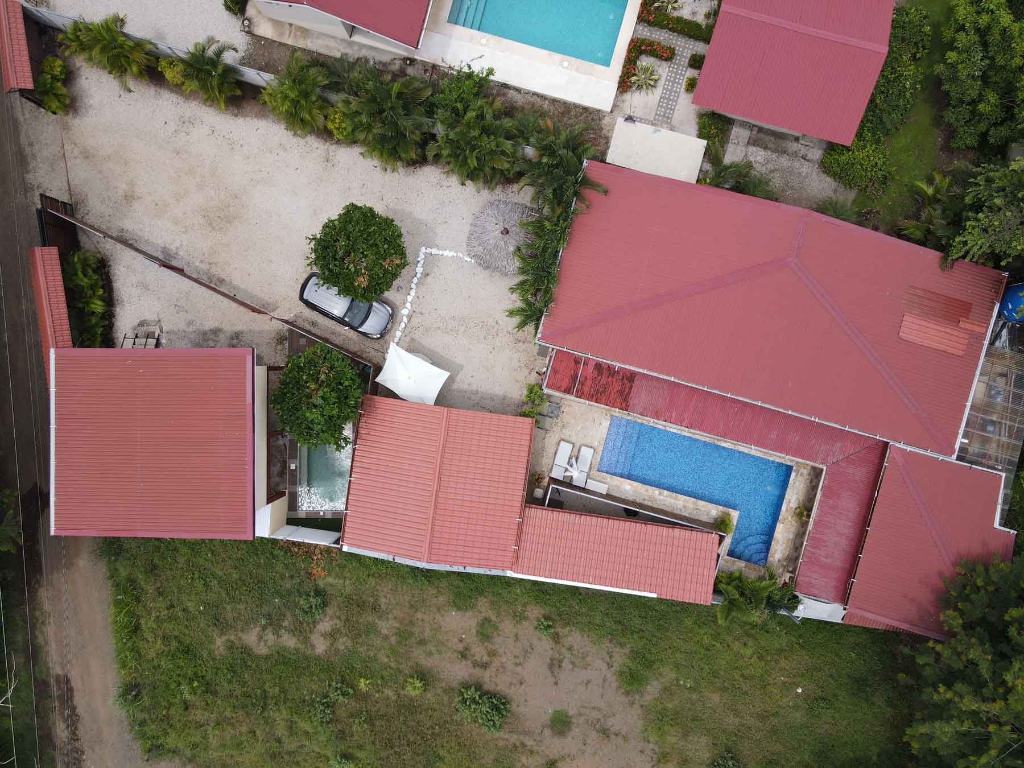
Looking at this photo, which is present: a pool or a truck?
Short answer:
pool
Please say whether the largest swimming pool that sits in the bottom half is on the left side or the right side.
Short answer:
right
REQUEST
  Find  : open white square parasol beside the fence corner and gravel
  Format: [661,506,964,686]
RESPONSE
[376,342,449,405]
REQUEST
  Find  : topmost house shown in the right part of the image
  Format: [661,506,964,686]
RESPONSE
[692,0,896,149]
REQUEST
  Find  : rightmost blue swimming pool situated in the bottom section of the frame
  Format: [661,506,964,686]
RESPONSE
[594,414,796,565]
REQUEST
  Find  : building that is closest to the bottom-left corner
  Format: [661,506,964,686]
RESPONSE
[45,347,271,540]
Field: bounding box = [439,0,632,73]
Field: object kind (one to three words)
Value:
swimming pool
